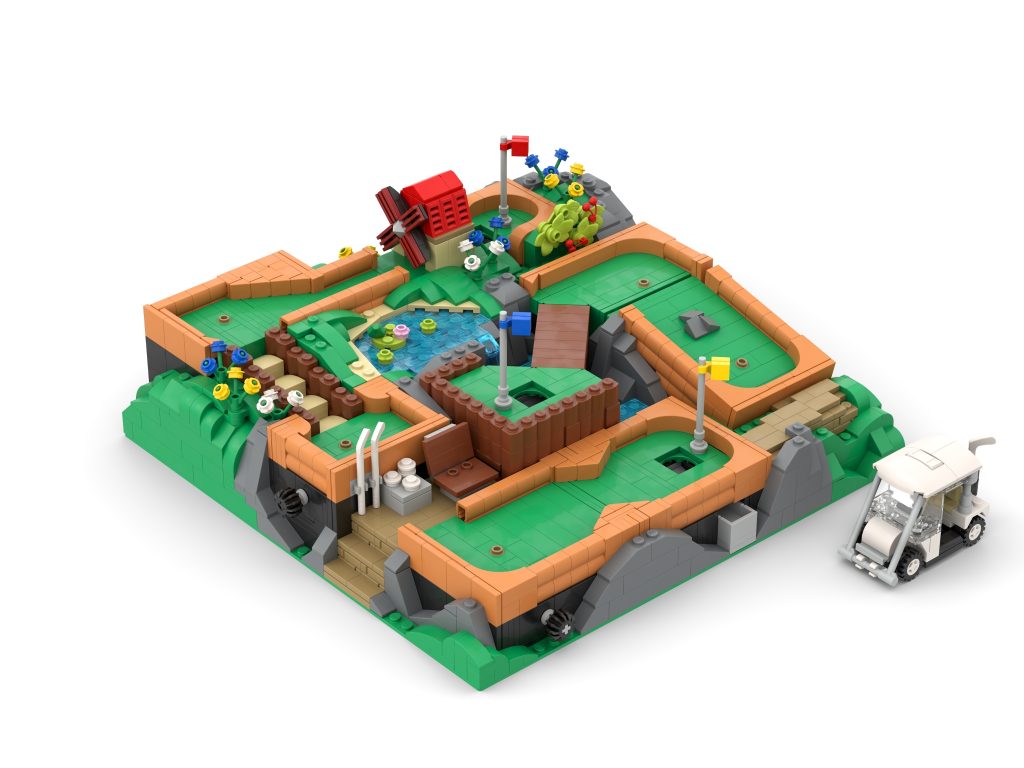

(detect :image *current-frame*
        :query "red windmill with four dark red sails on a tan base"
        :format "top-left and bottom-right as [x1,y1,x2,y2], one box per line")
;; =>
[376,170,475,270]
